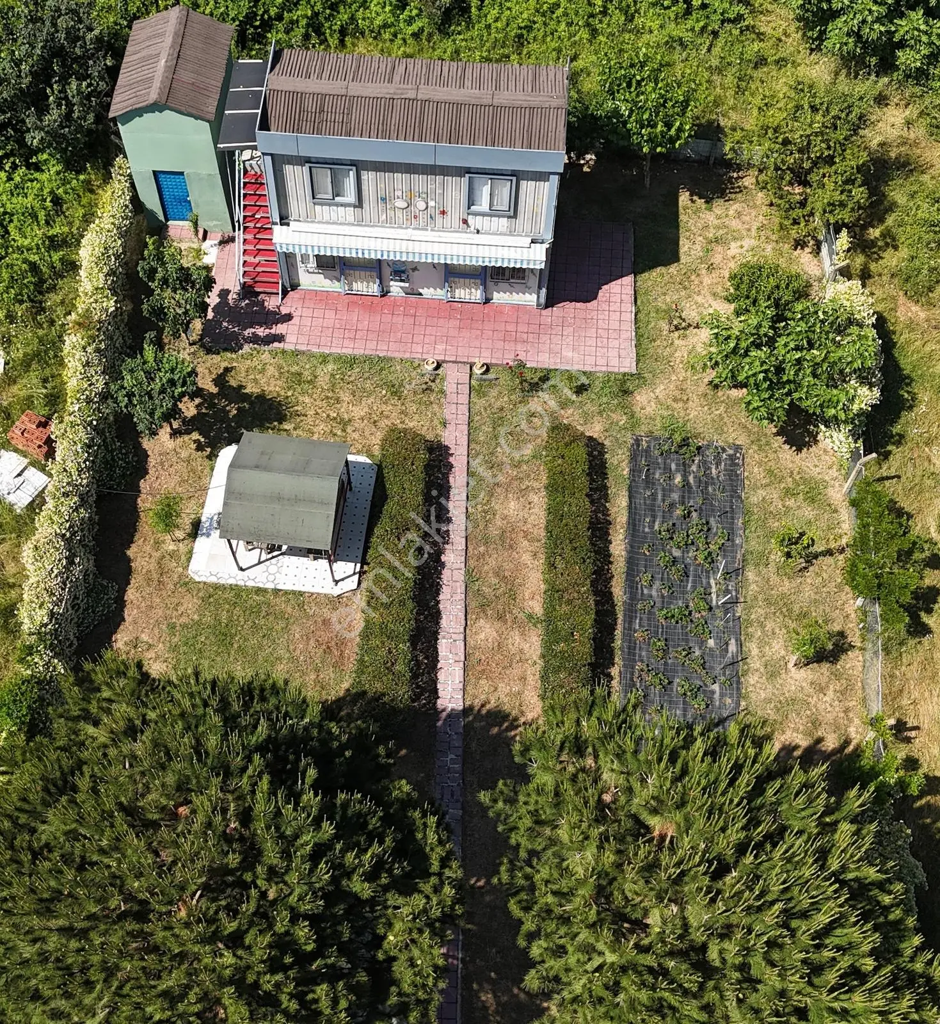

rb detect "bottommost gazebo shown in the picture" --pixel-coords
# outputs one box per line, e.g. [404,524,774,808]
[218,429,353,582]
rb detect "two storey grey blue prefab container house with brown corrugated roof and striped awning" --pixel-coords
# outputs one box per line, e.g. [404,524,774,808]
[257,33,572,307]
